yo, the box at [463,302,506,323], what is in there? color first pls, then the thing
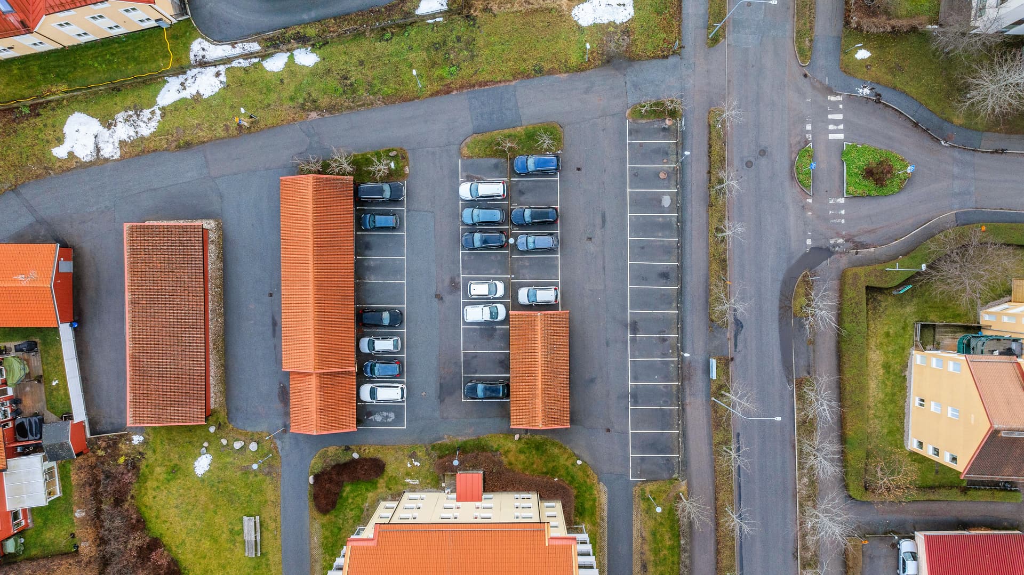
white vehicle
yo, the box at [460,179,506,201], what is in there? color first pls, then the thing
white car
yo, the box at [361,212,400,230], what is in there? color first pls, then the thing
blue car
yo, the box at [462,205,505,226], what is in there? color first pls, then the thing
blue car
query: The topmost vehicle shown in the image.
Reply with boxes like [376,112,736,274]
[514,152,561,175]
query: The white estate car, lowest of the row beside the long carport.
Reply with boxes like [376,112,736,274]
[359,383,407,405]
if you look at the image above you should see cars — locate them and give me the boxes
[460,179,506,201]
[518,285,559,306]
[357,181,405,203]
[358,308,403,329]
[468,279,504,299]
[462,229,507,251]
[359,383,407,405]
[896,545,922,575]
[462,205,505,226]
[511,204,559,226]
[361,212,400,230]
[464,380,511,401]
[363,359,402,378]
[359,335,401,355]
[514,152,561,175]
[516,232,559,253]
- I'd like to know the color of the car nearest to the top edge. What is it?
blue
